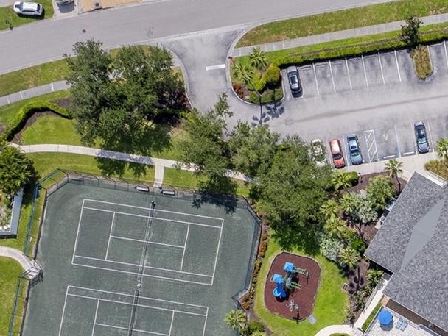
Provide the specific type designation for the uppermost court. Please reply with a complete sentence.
The uppermost court in the image is a tennis court.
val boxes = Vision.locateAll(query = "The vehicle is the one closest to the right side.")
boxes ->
[415,122,428,153]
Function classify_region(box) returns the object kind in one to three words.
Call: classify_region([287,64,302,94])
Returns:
car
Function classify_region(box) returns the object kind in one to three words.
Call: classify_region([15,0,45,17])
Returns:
car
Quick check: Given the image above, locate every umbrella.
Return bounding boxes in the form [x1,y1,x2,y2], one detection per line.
[378,308,393,323]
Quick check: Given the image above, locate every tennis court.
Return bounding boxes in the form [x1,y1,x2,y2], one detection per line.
[20,273,242,336]
[36,182,260,297]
